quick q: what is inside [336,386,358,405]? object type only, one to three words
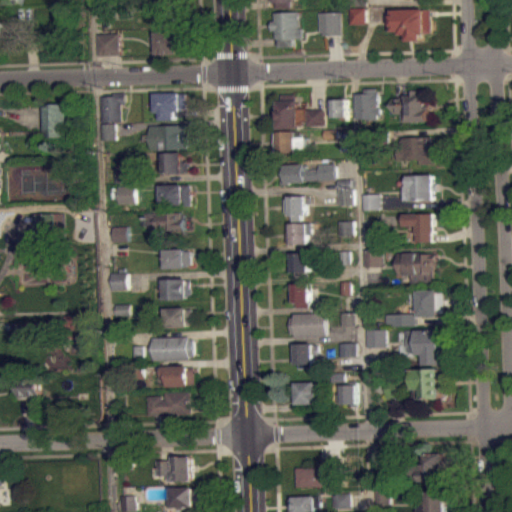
building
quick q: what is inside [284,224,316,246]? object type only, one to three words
house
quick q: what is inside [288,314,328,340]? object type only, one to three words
house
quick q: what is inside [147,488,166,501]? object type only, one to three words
swimming pool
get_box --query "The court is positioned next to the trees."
[8,167,65,202]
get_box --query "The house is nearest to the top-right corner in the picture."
[386,9,436,42]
